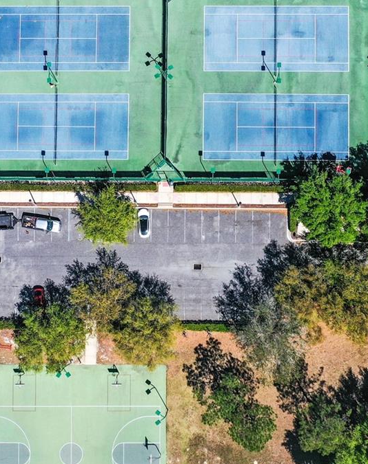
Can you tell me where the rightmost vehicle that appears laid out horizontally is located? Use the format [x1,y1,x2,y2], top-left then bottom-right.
[23,214,59,231]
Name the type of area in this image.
sports ground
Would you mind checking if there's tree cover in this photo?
Yes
